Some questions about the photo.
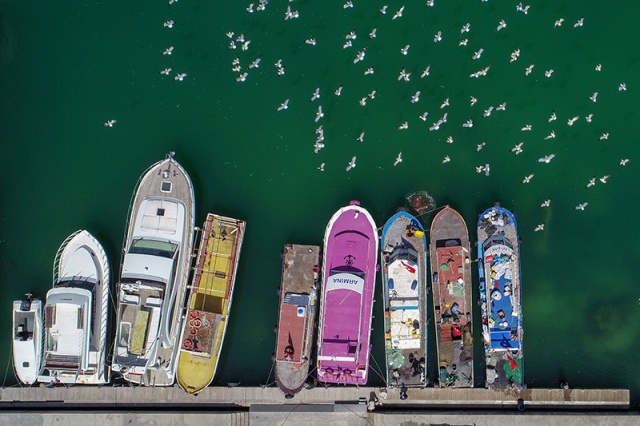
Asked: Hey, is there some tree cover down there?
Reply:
No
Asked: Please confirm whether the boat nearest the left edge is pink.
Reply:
No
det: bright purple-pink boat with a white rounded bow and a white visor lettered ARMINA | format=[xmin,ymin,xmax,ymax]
[313,199,381,388]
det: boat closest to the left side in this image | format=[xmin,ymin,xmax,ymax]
[12,294,48,385]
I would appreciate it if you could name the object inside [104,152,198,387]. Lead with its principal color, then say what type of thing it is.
white boat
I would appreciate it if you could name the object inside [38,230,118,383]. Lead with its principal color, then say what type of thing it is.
white boat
